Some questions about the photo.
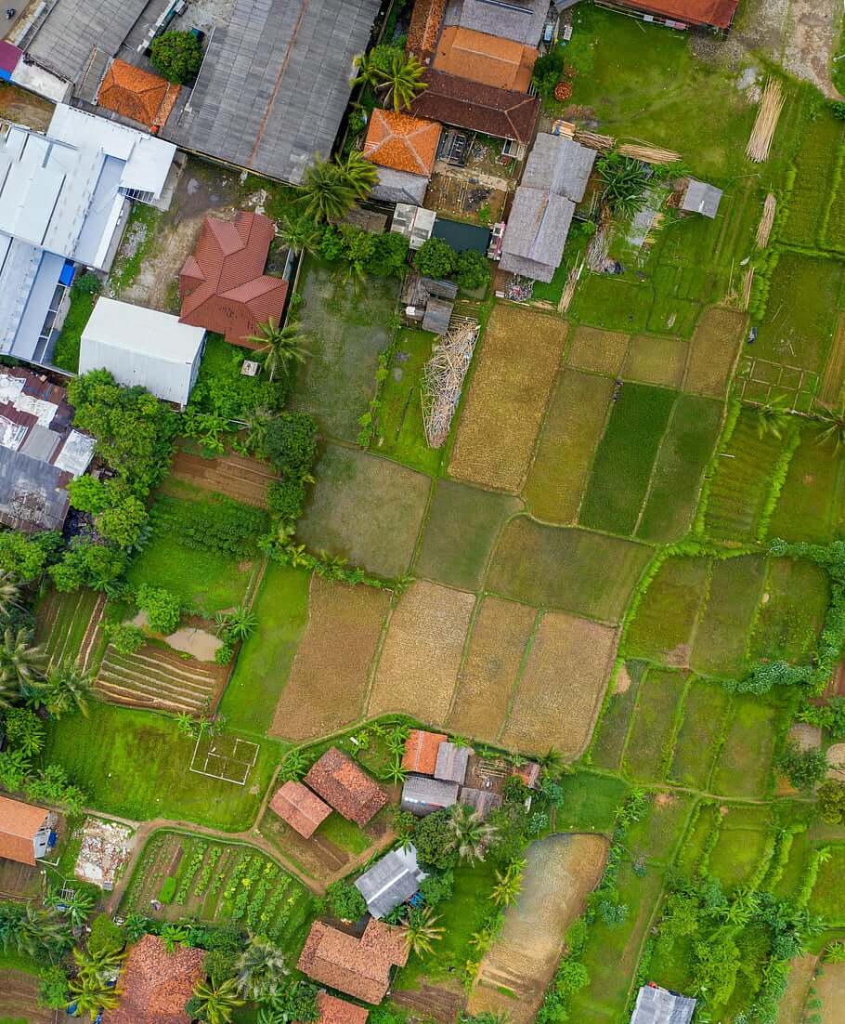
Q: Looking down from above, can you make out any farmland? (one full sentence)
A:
Yes, farmland shows up in the scene.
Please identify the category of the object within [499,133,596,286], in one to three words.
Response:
barn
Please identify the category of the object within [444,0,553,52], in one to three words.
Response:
house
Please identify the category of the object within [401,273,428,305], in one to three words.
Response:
shed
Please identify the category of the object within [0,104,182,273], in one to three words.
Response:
building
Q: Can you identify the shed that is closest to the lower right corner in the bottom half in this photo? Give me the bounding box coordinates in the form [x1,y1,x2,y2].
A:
[627,979,695,1024]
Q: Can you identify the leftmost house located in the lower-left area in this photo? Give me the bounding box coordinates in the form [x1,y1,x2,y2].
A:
[0,791,55,864]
